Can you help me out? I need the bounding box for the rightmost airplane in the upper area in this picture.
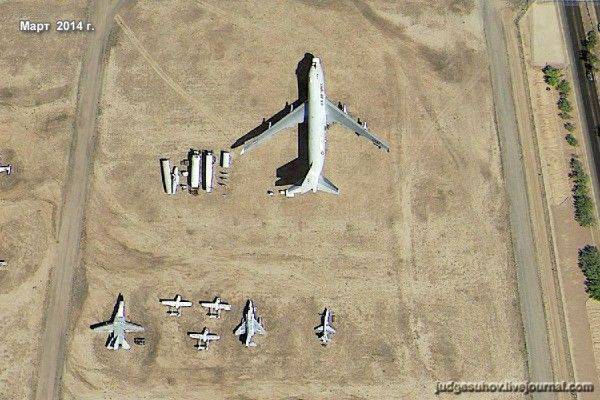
[241,57,390,194]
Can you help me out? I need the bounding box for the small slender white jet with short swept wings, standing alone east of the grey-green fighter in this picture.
[315,309,336,345]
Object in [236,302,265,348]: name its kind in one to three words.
airplane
